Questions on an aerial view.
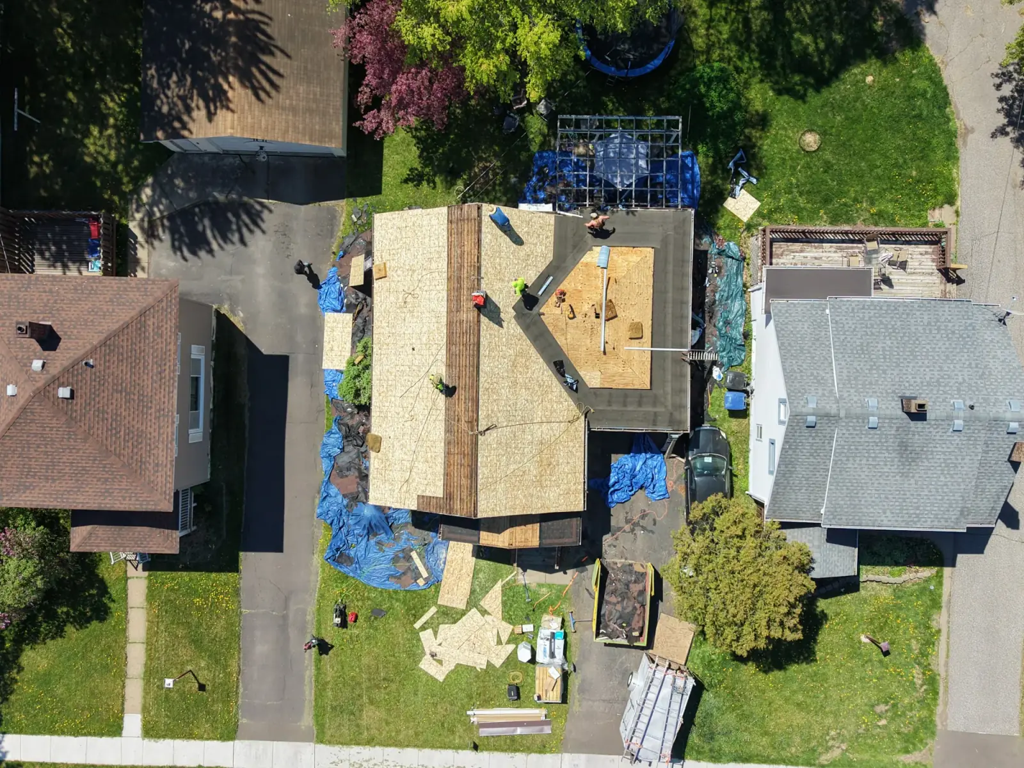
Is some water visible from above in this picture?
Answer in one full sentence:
No, water can't be seen anywhere here.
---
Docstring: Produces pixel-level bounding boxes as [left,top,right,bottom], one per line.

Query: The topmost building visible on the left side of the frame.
[138,0,355,157]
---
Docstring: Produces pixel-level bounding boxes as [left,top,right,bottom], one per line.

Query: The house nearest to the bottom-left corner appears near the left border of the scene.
[0,270,213,561]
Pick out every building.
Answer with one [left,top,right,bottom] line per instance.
[366,204,697,582]
[0,270,213,561]
[138,0,355,157]
[744,265,1024,581]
